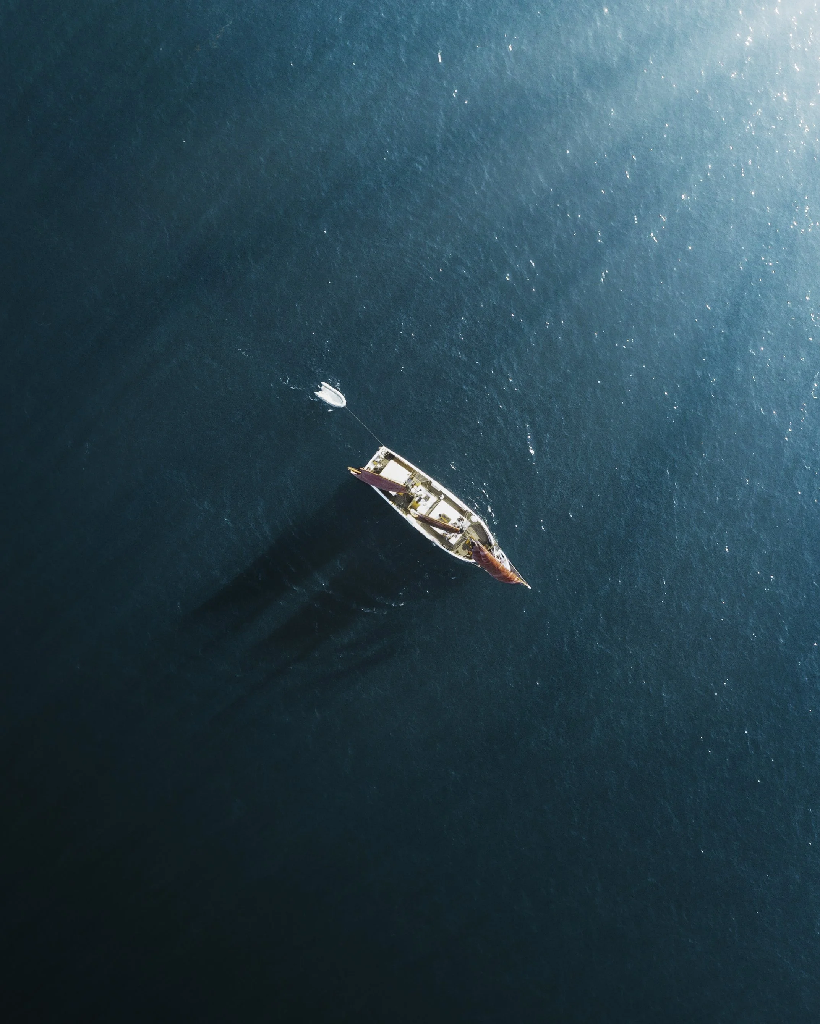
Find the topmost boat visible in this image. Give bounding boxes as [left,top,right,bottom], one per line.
[316,382,346,408]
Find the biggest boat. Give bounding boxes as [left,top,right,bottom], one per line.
[345,445,531,589]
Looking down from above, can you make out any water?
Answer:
Yes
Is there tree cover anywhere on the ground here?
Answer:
No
